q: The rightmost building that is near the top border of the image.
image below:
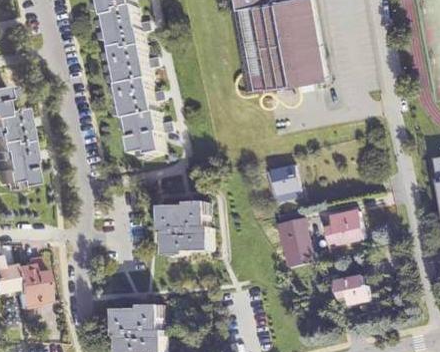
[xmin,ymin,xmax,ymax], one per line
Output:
[233,0,331,96]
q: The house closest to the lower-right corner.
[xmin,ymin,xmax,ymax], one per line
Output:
[333,275,372,308]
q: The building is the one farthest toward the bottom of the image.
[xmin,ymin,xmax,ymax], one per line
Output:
[107,304,173,352]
